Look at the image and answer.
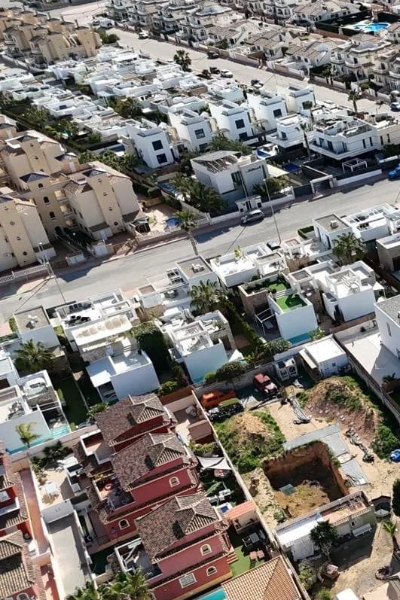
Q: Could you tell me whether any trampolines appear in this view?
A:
No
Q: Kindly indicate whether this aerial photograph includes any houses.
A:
Yes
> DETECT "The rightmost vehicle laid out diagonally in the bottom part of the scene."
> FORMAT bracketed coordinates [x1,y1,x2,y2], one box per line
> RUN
[273,358,302,380]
